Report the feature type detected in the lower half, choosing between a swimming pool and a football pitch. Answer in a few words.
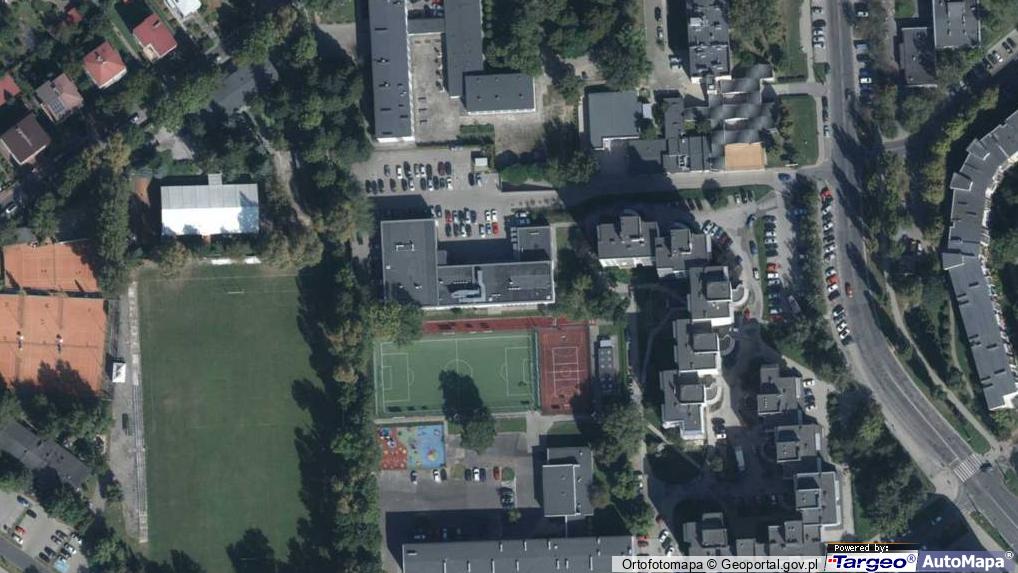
football pitch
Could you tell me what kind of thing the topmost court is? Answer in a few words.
tennis court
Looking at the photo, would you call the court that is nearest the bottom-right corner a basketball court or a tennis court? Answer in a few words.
basketball court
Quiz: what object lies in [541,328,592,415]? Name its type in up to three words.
basketball court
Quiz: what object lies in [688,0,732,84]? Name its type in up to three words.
building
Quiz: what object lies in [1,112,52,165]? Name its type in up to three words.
house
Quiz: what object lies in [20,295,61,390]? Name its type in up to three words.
tennis court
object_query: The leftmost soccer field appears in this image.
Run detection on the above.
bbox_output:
[139,262,351,573]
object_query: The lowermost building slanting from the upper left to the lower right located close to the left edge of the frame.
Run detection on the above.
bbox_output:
[0,418,89,489]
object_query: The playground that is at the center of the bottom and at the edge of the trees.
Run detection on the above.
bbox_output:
[377,424,445,471]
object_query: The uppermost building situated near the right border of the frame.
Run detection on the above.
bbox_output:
[933,0,980,52]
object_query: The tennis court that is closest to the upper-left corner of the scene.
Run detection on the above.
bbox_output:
[3,239,97,290]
